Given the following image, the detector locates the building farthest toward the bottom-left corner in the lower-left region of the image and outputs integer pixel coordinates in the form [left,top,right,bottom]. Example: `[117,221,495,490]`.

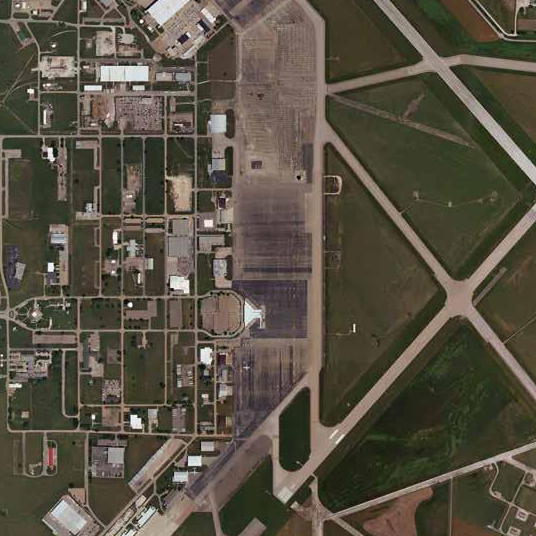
[51,500,86,533]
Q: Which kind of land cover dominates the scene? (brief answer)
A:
grass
